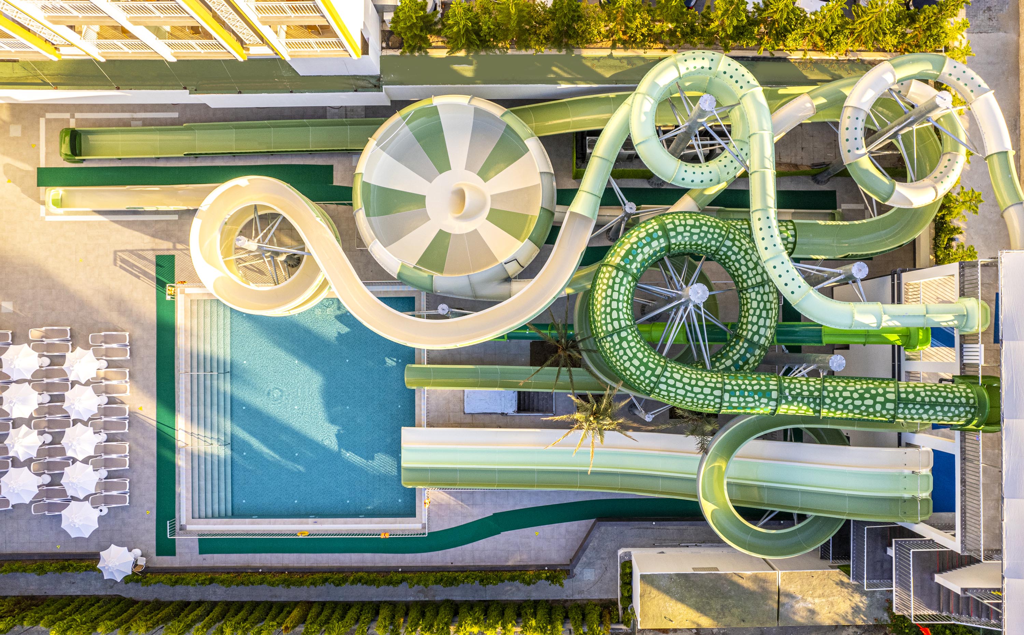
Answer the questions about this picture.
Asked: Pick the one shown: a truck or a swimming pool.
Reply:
swimming pool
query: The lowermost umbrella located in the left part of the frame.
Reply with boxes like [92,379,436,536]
[99,545,146,582]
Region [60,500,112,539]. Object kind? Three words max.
umbrella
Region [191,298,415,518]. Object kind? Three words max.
swimming pool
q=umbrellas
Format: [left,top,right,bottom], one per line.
[0,465,55,505]
[1,344,55,381]
[2,381,56,418]
[61,346,112,386]
[4,424,58,462]
[61,383,112,422]
[61,461,111,499]
[99,545,146,582]
[61,423,111,460]
[60,500,112,539]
